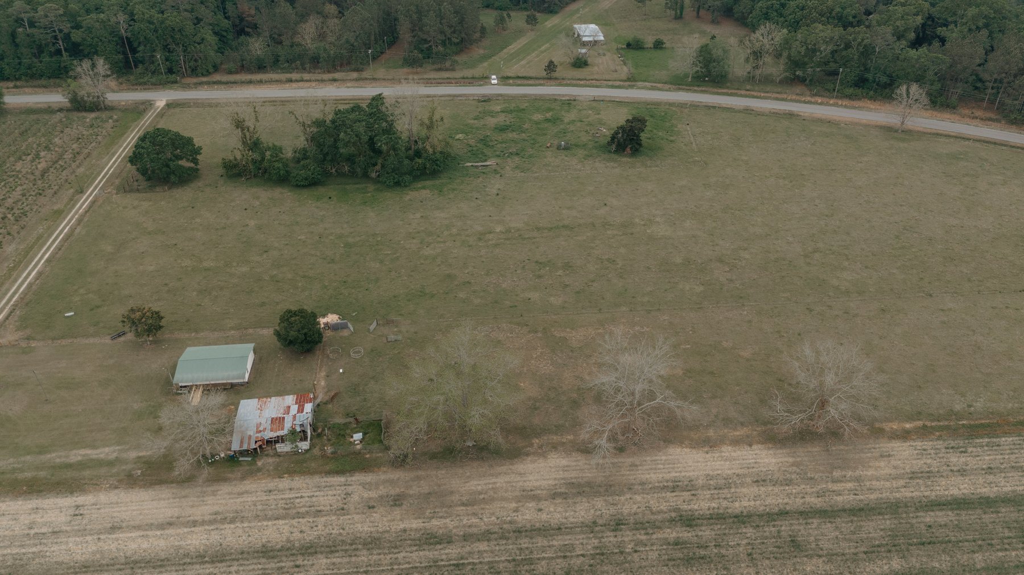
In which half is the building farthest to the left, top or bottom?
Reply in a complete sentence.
Seen from above, the building farthest to the left lies in the bottom half of the view.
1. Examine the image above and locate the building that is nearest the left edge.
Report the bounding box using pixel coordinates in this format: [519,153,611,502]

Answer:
[171,344,258,412]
